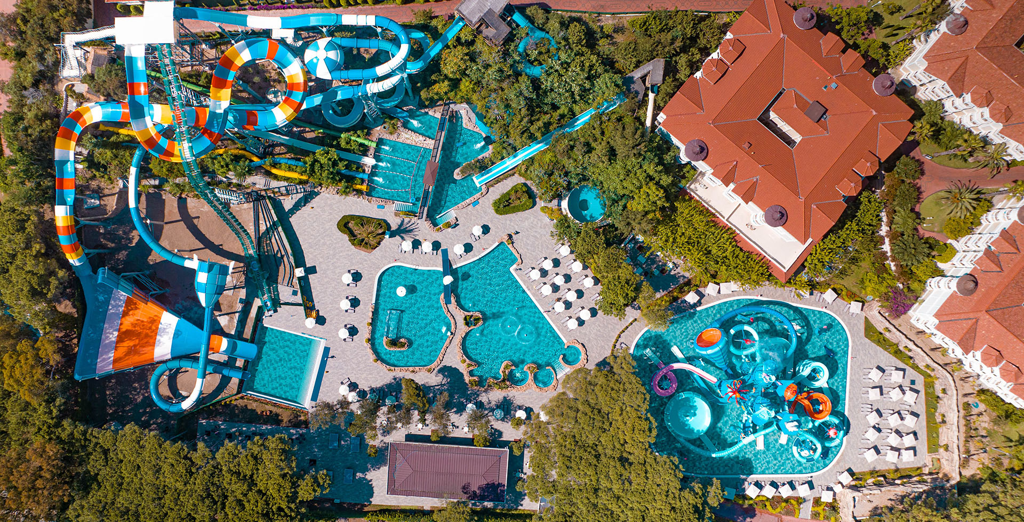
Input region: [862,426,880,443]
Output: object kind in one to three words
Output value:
umbrella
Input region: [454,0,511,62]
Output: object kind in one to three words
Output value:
shed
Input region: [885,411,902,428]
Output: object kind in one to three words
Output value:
umbrella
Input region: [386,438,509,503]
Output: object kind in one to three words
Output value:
building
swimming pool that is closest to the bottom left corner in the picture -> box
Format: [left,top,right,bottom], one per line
[247,327,321,406]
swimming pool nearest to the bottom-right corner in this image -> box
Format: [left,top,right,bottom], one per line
[634,300,846,472]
